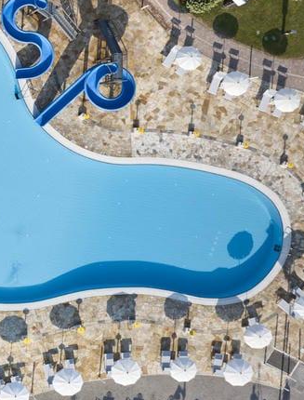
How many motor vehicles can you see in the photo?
zero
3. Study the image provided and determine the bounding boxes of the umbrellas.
[166,353,198,384]
[172,43,204,73]
[108,357,139,388]
[239,316,270,349]
[222,354,254,386]
[0,379,29,400]
[51,365,83,397]
[216,68,248,99]
[267,84,300,114]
